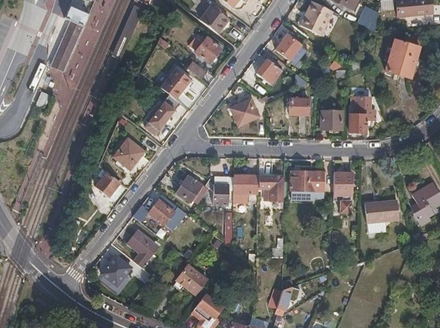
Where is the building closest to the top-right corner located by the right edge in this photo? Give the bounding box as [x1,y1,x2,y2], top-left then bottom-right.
[394,0,440,18]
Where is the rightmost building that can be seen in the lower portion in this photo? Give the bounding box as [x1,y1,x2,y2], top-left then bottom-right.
[409,182,440,222]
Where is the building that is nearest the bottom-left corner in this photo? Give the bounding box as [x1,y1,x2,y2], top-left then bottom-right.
[96,247,133,290]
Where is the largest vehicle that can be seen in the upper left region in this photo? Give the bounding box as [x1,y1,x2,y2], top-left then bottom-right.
[28,62,46,90]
